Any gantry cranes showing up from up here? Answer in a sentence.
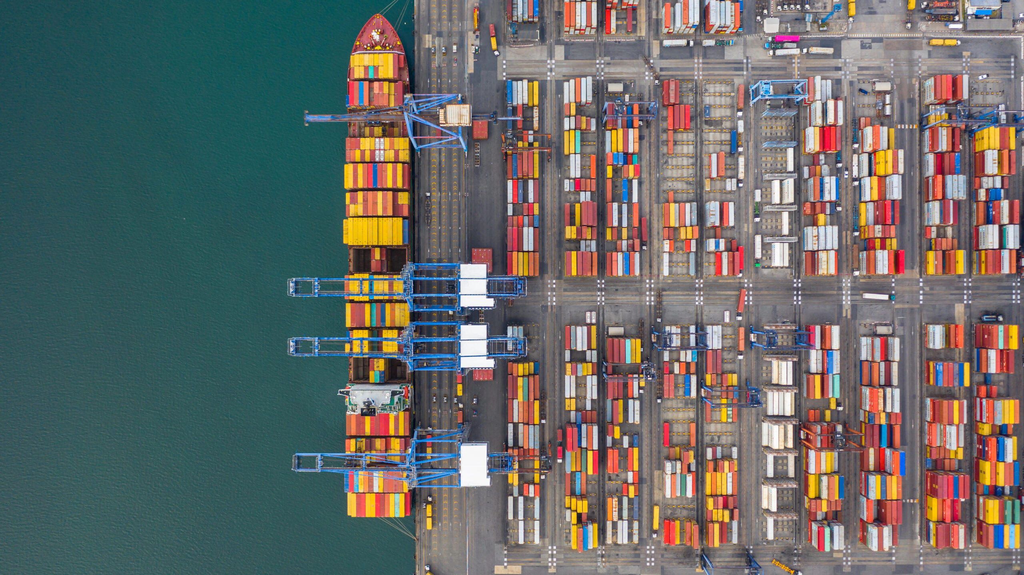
Yes, you can see a gantry crane in this photo.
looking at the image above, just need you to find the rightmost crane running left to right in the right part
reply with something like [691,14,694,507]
[966,106,1024,136]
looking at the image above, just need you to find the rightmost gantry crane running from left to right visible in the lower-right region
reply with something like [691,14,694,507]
[797,424,860,452]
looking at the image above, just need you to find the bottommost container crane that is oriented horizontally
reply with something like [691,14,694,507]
[699,550,757,575]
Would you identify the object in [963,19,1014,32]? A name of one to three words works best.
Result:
building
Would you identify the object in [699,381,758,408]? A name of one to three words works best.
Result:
container crane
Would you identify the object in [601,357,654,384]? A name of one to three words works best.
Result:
container crane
